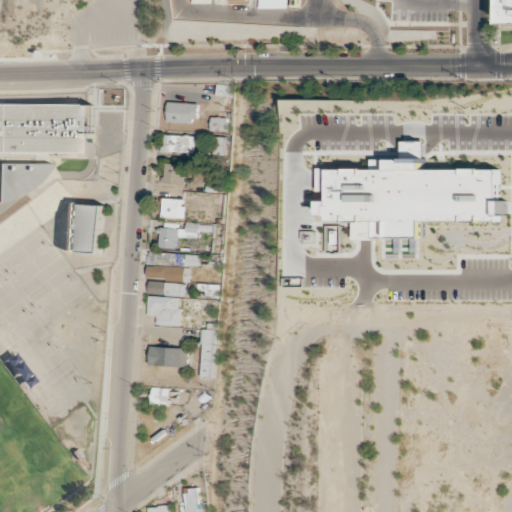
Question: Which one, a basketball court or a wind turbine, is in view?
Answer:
basketball court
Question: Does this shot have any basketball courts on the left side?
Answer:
Yes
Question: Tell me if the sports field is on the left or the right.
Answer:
left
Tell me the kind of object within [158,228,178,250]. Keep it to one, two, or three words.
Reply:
house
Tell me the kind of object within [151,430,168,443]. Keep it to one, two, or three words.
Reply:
vehicle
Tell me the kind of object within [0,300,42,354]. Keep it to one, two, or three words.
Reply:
basketball court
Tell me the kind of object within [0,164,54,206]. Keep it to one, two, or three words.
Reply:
building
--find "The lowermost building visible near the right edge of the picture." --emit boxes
[311,141,510,240]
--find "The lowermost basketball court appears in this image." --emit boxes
[22,331,68,376]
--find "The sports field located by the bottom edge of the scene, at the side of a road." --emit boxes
[0,364,88,512]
